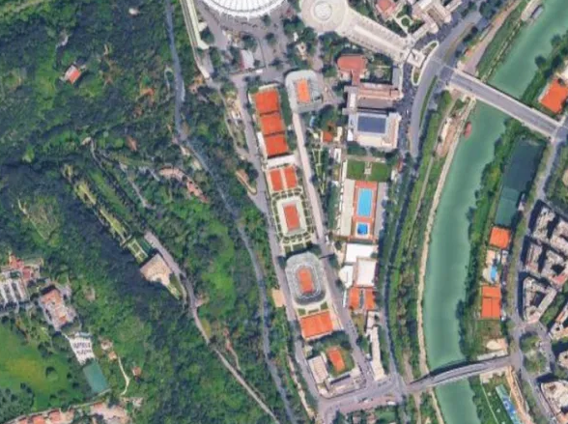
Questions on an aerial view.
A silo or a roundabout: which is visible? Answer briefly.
roundabout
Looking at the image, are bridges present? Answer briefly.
Yes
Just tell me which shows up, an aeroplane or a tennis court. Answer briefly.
tennis court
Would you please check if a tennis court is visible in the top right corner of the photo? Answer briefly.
Yes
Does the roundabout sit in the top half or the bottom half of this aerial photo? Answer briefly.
bottom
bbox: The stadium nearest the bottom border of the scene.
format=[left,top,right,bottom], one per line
[286,253,327,305]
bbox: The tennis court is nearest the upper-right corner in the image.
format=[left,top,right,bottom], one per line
[541,79,568,111]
